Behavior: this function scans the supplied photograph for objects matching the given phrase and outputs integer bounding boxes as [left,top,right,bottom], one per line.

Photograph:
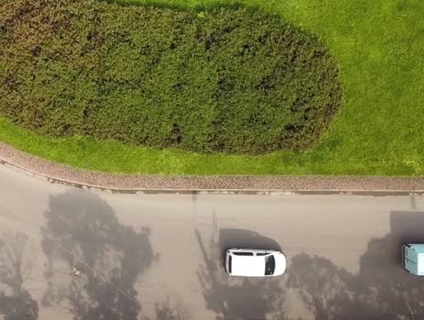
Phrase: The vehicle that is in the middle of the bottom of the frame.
[226,247,287,280]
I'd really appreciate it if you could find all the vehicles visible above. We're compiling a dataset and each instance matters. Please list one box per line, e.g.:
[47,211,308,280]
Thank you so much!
[226,247,287,280]
[400,242,424,276]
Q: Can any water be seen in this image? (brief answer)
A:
No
